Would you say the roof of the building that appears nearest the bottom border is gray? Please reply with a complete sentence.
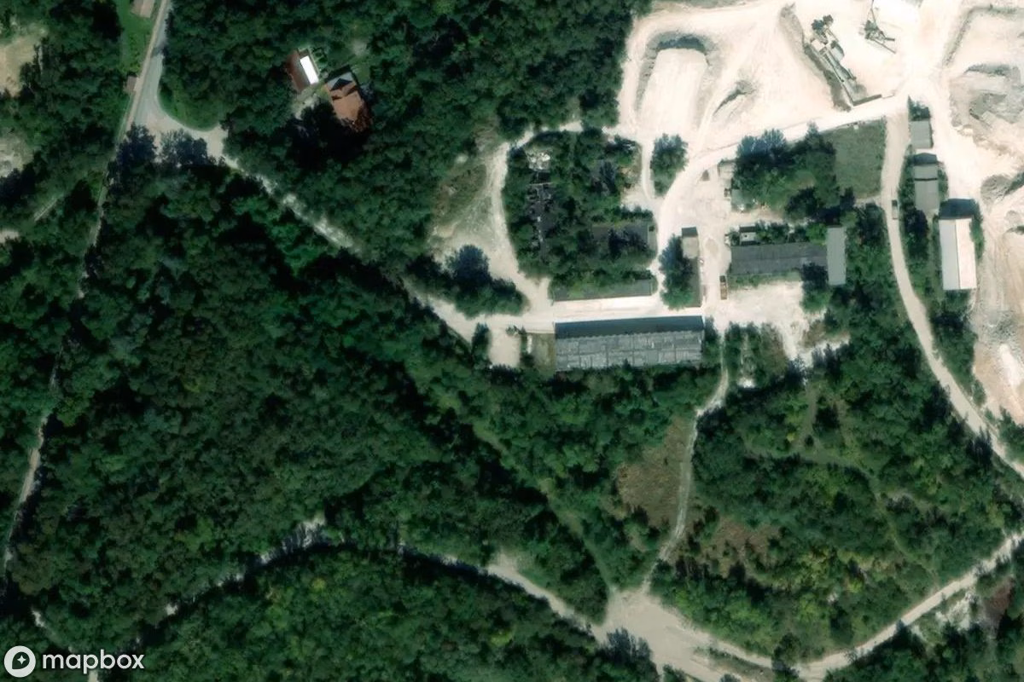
Yes, the roof of the building that appears nearest the bottom border is gray.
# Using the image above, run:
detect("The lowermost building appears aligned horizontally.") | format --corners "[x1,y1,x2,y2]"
[555,333,704,372]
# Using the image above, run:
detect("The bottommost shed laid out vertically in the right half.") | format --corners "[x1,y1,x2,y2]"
[686,259,702,308]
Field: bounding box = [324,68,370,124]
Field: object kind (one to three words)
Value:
house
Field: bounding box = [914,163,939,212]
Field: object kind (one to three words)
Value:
building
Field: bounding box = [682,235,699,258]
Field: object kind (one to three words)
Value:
building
